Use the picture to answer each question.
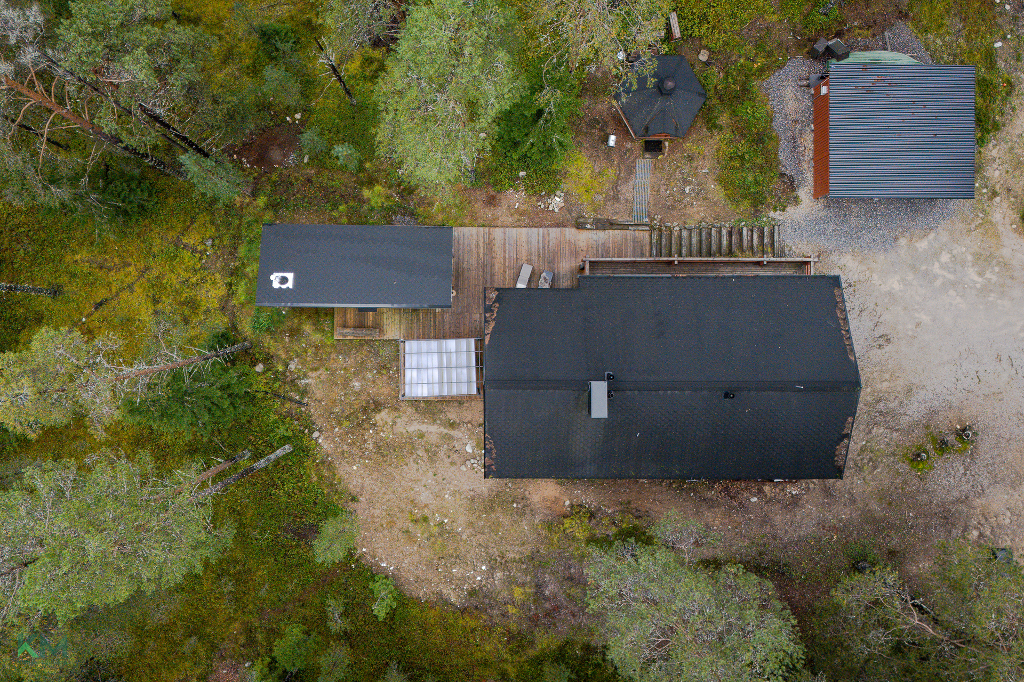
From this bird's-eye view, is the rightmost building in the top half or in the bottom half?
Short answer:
top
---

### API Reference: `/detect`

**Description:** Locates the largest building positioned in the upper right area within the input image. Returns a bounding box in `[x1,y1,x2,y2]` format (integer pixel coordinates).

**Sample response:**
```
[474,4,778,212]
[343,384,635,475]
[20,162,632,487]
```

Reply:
[813,62,976,200]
